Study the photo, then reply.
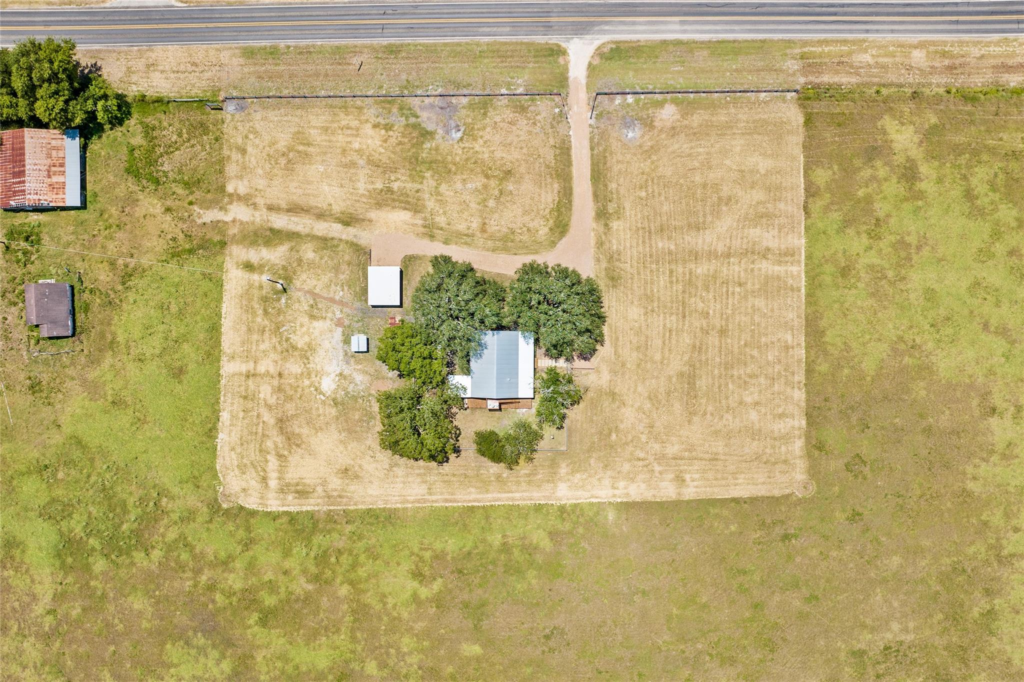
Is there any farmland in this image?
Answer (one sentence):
Yes, there's farmland in this view.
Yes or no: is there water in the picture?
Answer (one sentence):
No, there's no water in this view.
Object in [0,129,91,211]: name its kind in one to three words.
barn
